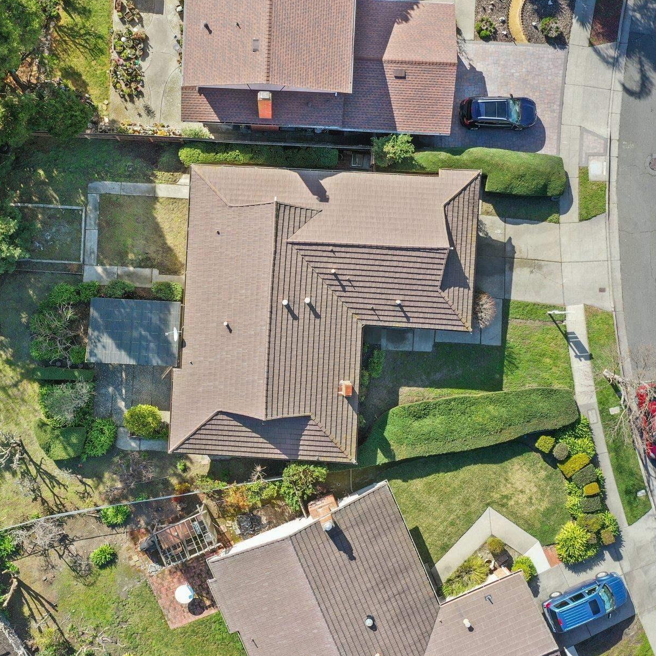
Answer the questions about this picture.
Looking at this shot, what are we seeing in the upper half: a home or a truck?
home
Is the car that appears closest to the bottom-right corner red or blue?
blue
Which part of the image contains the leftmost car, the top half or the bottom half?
top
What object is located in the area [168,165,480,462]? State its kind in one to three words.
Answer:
house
